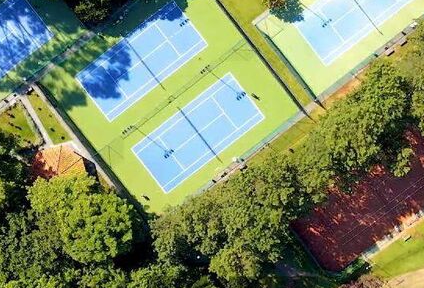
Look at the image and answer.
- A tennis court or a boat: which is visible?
tennis court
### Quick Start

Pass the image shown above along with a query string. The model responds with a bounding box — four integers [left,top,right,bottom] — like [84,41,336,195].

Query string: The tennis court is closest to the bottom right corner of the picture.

[282,107,424,272]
